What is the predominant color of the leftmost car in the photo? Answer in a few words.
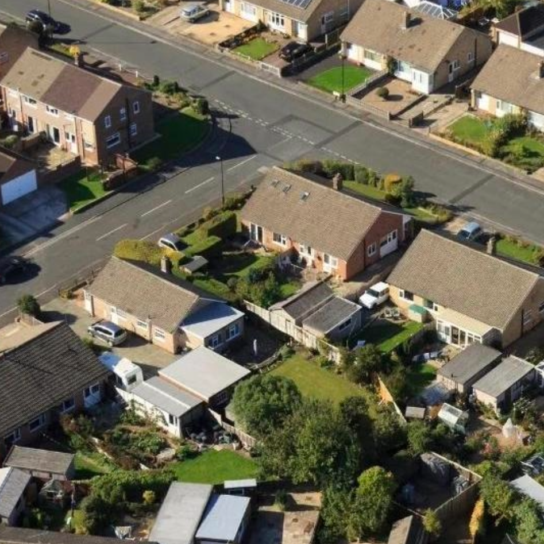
black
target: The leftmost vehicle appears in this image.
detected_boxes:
[0,257,32,282]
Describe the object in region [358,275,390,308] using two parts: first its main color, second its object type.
white car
